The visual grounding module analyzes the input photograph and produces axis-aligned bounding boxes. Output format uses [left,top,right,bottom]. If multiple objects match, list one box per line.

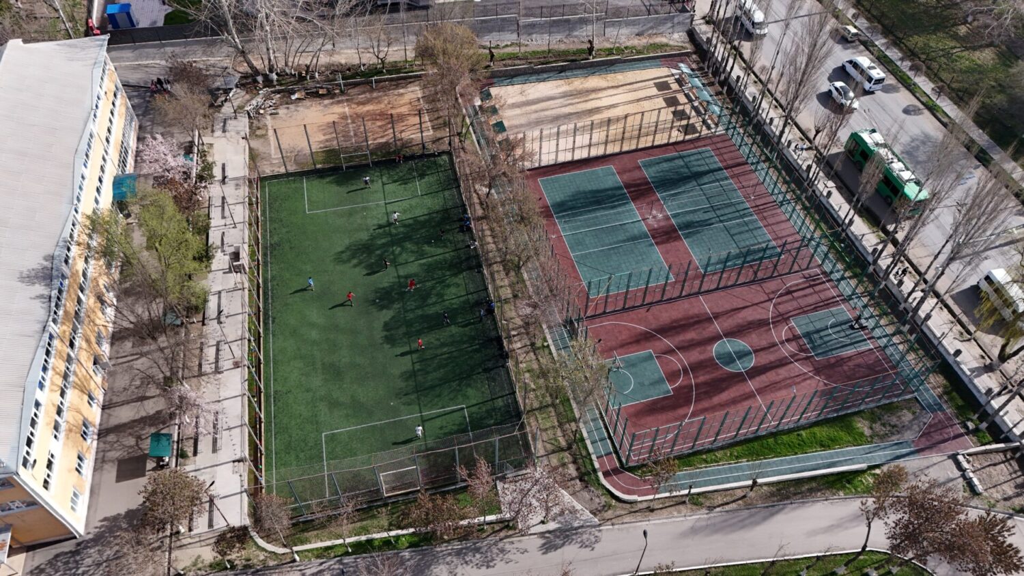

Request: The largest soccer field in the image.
[261,151,535,522]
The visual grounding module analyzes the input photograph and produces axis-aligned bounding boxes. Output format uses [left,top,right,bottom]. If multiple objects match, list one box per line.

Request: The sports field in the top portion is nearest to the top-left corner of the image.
[263,84,437,158]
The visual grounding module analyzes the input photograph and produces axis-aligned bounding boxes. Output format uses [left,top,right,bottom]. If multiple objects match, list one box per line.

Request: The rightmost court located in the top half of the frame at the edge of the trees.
[619,133,821,292]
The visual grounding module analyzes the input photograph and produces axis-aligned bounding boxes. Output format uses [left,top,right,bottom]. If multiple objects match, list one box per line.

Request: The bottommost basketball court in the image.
[570,268,912,464]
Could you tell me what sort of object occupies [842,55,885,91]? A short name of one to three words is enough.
vehicle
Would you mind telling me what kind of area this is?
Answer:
sports ground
